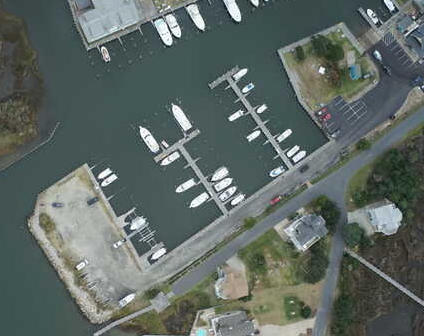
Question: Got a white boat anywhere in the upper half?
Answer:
Yes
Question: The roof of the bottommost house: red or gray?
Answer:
gray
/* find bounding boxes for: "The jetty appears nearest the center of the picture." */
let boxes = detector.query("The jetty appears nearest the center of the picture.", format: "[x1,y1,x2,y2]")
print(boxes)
[153,129,239,215]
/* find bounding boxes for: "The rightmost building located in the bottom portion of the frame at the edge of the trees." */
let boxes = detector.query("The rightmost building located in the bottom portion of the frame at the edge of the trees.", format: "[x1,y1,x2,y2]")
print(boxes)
[362,200,402,235]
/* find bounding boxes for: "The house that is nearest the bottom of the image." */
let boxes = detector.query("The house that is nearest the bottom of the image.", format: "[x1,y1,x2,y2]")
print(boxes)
[208,310,257,336]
